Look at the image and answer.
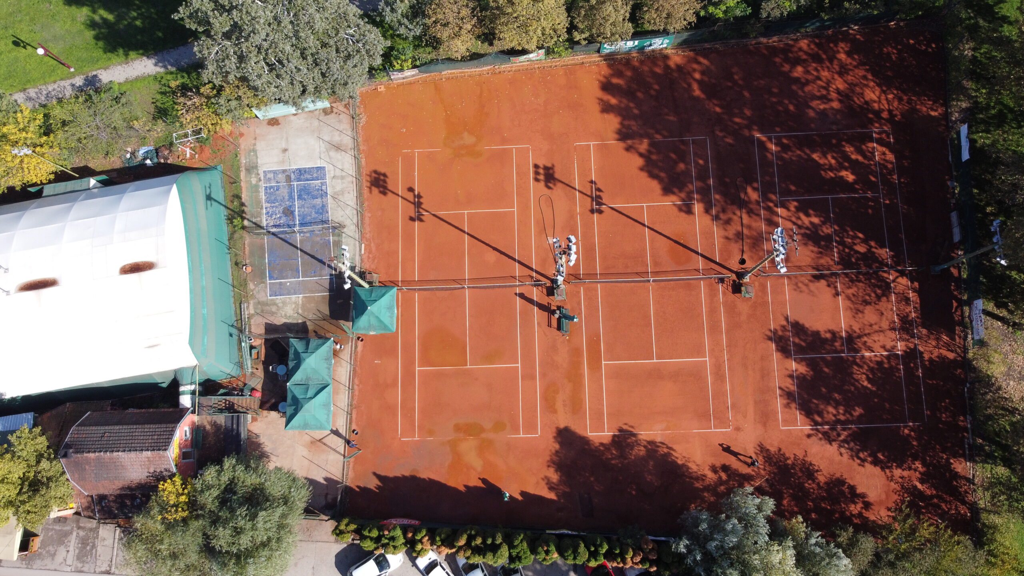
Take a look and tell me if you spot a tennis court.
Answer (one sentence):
Yes, the frame does contain a tennis court.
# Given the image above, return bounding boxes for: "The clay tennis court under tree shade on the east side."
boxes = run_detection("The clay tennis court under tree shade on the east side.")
[748,123,935,435]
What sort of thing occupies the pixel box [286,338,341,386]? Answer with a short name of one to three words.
gazebo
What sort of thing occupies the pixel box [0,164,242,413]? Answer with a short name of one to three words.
building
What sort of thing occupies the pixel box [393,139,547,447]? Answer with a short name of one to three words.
tennis court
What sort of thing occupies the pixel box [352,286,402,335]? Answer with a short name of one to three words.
gazebo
